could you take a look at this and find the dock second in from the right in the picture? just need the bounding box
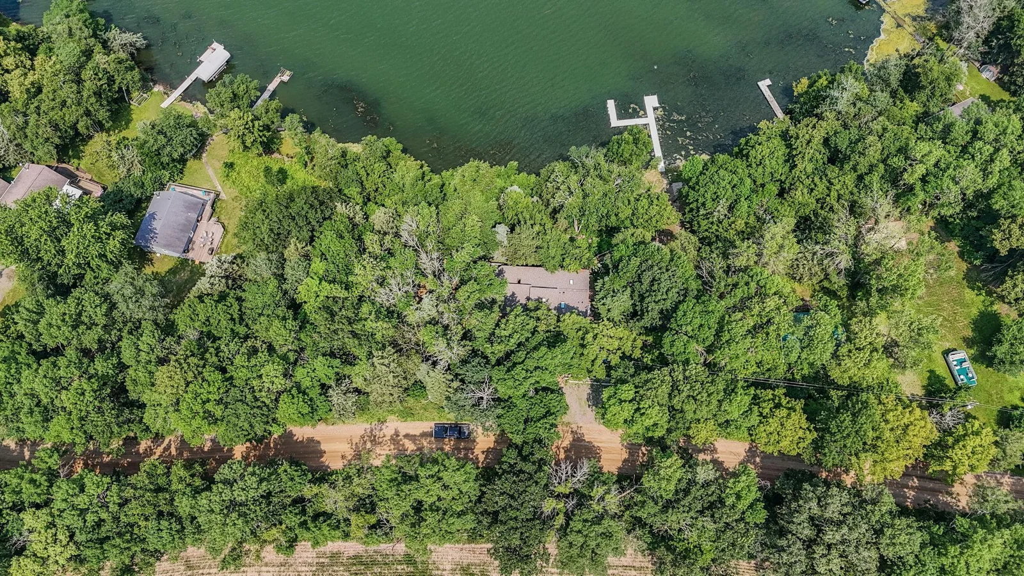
[757,78,788,126]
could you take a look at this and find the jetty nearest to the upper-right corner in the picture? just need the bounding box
[877,0,926,48]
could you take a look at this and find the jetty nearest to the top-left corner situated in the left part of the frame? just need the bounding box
[161,36,225,108]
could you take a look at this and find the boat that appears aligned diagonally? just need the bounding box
[943,347,980,393]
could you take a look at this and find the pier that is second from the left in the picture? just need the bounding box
[255,67,294,107]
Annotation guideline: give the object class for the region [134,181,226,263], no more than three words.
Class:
house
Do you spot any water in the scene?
Yes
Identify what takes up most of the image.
trees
